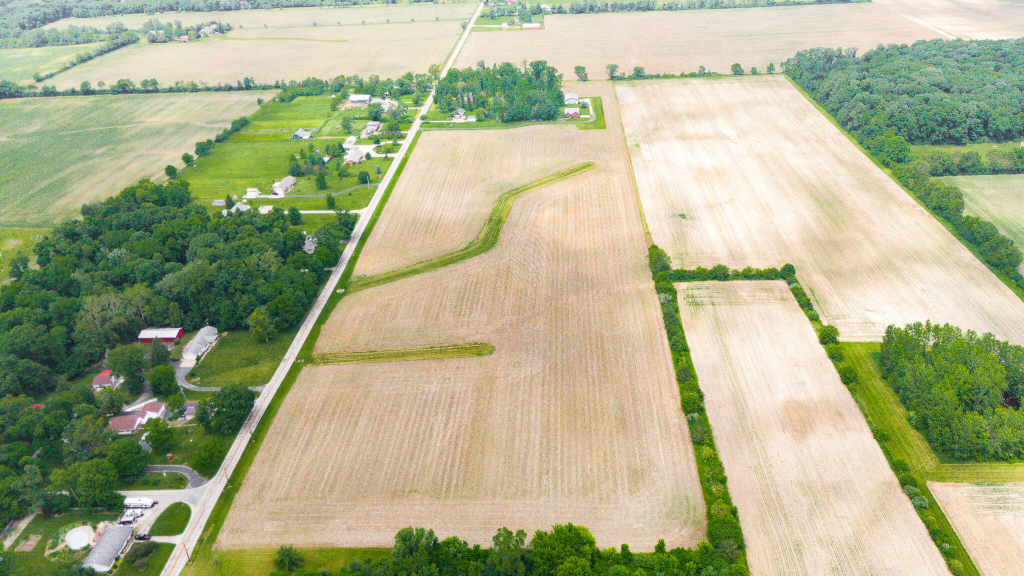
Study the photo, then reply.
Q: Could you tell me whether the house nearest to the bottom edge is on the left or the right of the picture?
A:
left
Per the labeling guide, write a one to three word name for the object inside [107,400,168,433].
house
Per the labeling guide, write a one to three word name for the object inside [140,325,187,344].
barn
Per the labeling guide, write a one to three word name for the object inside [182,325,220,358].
house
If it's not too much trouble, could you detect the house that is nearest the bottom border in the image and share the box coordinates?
[80,524,134,572]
